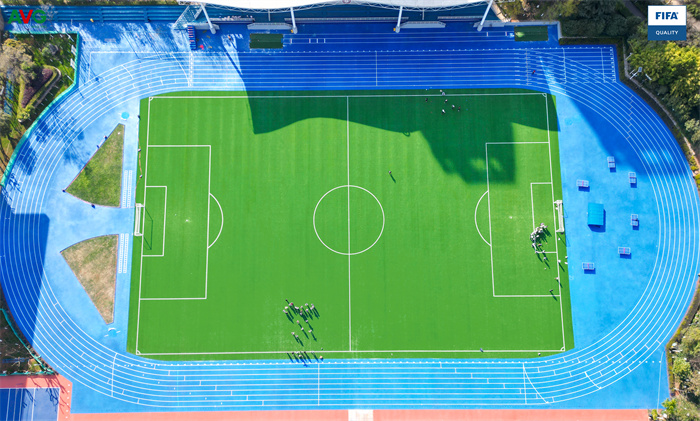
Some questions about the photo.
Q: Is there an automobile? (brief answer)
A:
No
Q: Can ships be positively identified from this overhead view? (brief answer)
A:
No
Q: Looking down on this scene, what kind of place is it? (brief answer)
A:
sports ground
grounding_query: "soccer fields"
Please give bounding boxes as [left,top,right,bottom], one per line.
[124,89,577,360]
